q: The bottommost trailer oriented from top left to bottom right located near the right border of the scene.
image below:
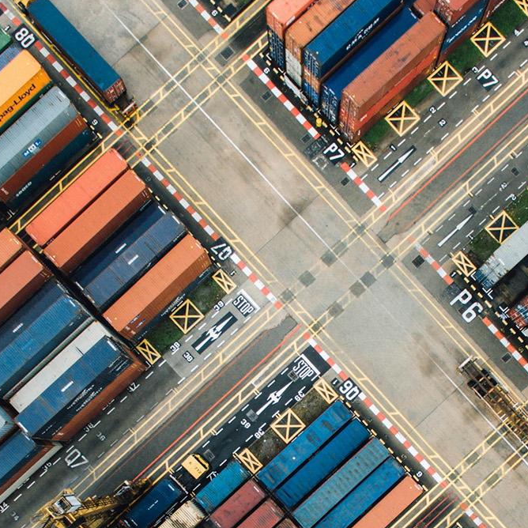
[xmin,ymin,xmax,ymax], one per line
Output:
[457,355,528,447]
